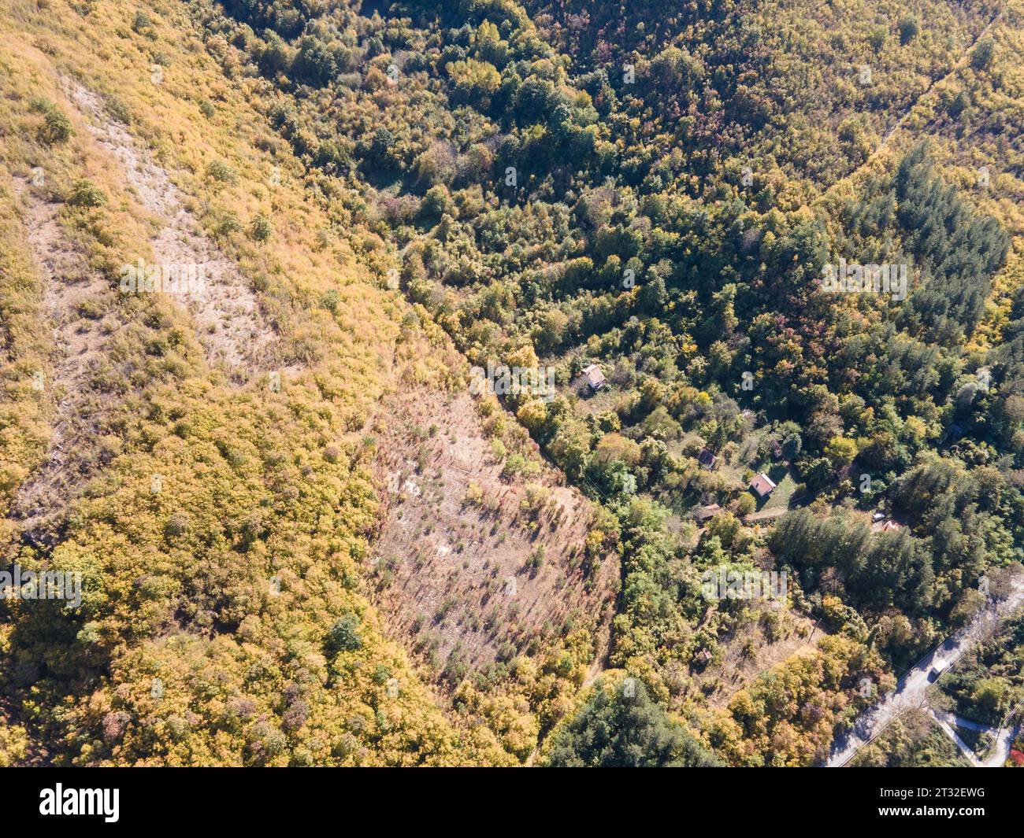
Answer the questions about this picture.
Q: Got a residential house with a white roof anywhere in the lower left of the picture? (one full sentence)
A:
No, in the lower left of the picture there is no residential house with a white roof.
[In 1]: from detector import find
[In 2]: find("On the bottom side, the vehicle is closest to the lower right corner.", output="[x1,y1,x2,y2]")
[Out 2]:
[932,658,952,677]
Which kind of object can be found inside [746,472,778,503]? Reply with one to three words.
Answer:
house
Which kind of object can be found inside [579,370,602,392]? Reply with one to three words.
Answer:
house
